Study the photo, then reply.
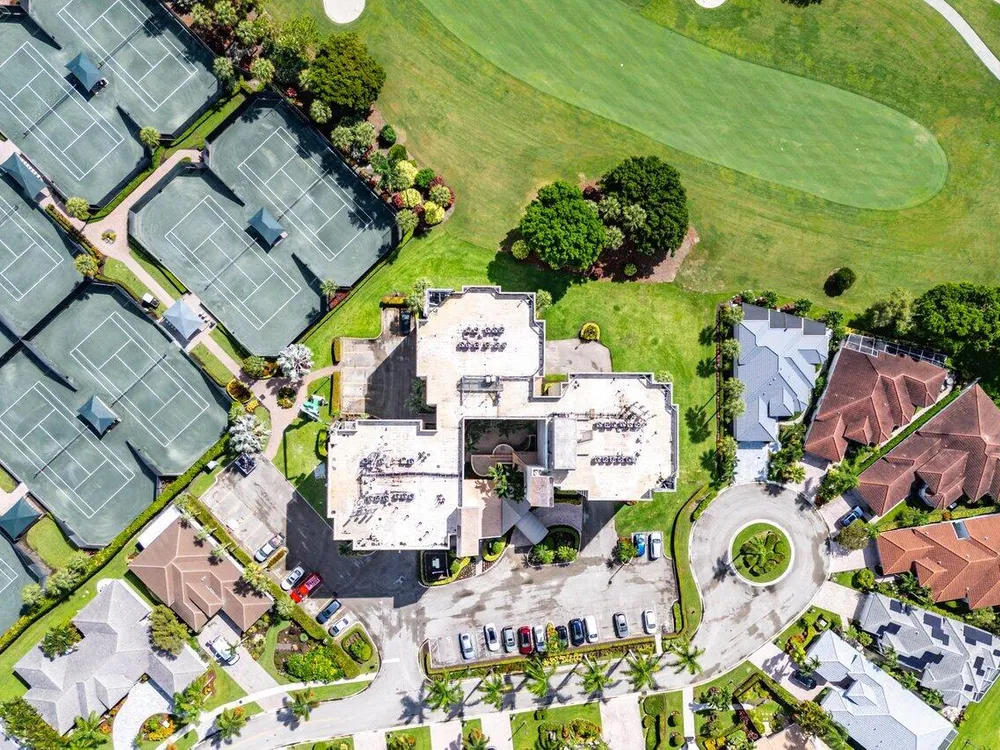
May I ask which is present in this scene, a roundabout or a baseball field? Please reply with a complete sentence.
The one in the frame is a roundabout.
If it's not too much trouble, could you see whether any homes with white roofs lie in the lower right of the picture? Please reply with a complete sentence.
Yes, I can see a home with a white roof in the lower right of the picture.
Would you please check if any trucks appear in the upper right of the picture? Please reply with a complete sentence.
No, there's no truck to be seen in the upper right of the picture.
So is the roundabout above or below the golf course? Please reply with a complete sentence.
In the image, the roundabout sits below the golf course.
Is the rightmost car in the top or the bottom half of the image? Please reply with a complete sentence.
The bottom half of the photo is where the rightmost car is.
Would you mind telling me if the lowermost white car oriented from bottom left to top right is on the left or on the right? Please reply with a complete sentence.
The lowermost white car oriented from bottom left to top right appears in the left half of the scene.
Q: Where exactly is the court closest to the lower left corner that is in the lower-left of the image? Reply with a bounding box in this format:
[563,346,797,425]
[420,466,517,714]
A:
[0,540,36,633]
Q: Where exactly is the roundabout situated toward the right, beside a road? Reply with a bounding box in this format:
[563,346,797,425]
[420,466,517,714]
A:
[728,519,795,586]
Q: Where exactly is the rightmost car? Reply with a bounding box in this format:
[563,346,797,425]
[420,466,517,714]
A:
[838,504,865,525]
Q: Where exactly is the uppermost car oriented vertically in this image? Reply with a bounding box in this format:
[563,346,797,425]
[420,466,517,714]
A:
[397,308,411,335]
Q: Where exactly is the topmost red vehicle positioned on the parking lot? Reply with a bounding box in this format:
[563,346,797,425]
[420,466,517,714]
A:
[292,570,321,603]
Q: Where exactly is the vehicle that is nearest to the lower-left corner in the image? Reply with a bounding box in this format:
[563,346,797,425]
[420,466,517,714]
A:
[209,635,235,664]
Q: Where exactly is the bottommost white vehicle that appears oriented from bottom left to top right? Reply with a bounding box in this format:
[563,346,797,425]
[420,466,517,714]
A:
[331,613,354,639]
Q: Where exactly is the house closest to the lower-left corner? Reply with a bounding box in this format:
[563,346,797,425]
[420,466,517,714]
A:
[14,577,208,735]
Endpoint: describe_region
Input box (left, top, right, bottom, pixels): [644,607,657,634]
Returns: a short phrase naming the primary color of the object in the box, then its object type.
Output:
white vehicle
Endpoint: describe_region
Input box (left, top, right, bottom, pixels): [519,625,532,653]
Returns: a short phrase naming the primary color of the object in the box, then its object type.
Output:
red vehicle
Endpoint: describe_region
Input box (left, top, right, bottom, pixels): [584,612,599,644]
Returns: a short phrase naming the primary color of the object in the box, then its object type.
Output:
white vehicle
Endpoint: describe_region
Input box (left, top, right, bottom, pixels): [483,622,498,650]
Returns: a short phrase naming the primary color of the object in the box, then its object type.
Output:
white car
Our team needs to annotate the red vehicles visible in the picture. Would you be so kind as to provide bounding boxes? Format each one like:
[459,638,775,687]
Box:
[519,625,532,653]
[292,570,321,603]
